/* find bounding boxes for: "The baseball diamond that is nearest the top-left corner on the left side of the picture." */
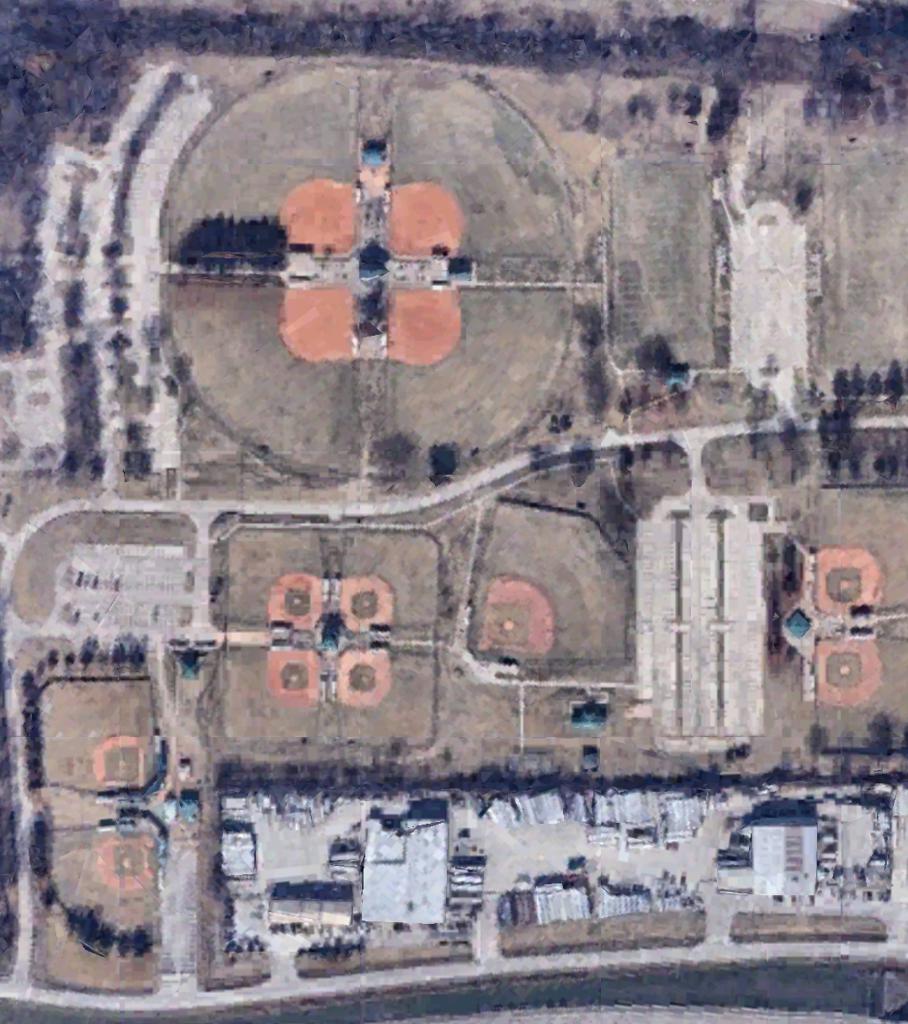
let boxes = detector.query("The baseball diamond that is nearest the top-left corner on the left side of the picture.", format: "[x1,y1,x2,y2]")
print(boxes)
[166,70,360,259]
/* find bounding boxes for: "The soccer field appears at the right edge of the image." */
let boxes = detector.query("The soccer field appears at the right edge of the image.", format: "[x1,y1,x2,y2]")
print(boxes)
[823,157,908,366]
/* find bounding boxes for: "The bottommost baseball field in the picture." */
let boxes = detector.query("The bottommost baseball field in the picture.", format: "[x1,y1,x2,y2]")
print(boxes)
[472,502,637,661]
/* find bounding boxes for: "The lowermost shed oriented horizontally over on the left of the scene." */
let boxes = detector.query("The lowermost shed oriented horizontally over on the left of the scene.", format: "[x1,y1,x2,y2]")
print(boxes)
[269,896,353,925]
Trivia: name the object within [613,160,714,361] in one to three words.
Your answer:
soccer field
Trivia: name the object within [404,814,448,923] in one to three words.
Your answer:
building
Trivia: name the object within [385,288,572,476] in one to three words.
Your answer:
baseball field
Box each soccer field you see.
[823,157,908,366]
[613,160,714,361]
